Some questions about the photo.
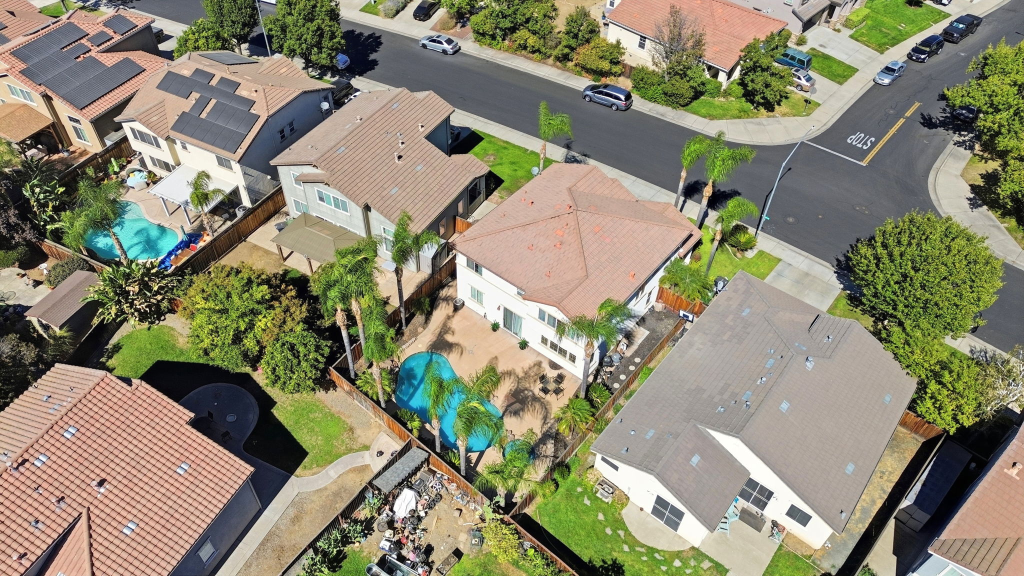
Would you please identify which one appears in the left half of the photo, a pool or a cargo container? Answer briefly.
pool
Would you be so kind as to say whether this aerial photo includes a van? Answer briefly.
Yes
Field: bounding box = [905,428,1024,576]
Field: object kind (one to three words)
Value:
house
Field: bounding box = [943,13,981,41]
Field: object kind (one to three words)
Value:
truck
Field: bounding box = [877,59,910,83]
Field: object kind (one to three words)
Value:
car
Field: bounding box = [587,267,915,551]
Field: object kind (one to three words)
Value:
house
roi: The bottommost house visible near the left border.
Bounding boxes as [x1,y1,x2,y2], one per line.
[0,360,266,576]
